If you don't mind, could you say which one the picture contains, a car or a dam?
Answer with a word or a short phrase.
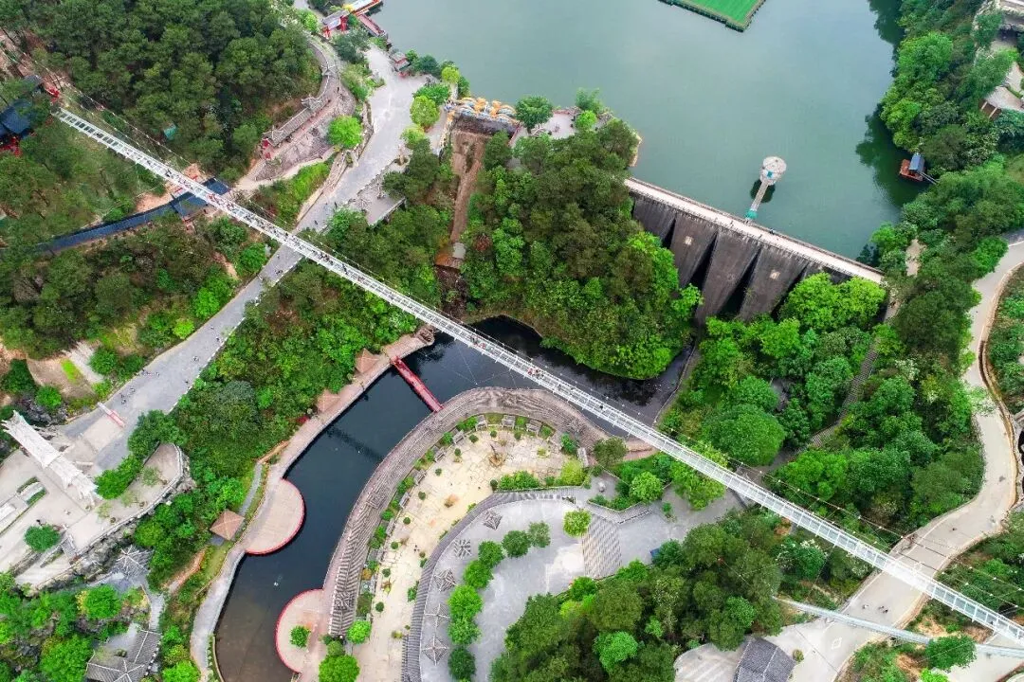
dam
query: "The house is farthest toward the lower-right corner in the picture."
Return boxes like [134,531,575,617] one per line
[726,631,799,682]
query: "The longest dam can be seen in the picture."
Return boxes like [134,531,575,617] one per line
[629,174,906,336]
